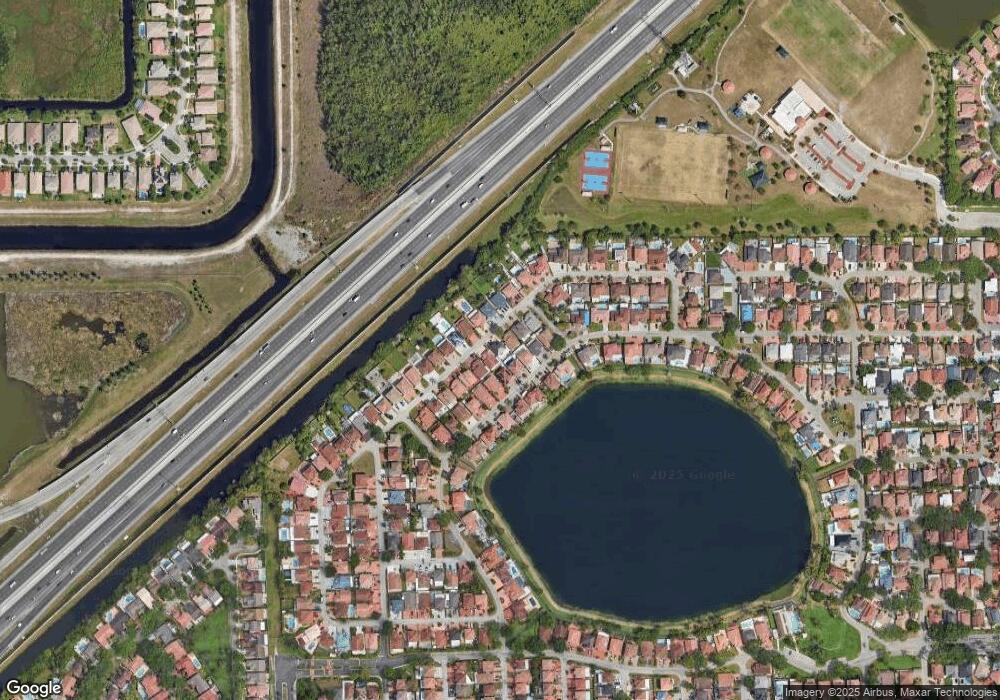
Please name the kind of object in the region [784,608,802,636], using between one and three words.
swimming pool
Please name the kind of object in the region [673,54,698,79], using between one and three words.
building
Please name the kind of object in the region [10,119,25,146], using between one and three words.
house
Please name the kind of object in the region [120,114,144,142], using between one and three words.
house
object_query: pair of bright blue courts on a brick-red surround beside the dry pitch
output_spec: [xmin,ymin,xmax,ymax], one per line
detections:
[580,150,611,198]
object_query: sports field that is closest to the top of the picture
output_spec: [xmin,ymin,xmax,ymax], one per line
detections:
[761,0,898,101]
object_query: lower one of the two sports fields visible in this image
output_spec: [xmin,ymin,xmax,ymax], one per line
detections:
[612,124,728,204]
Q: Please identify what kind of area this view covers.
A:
residential area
